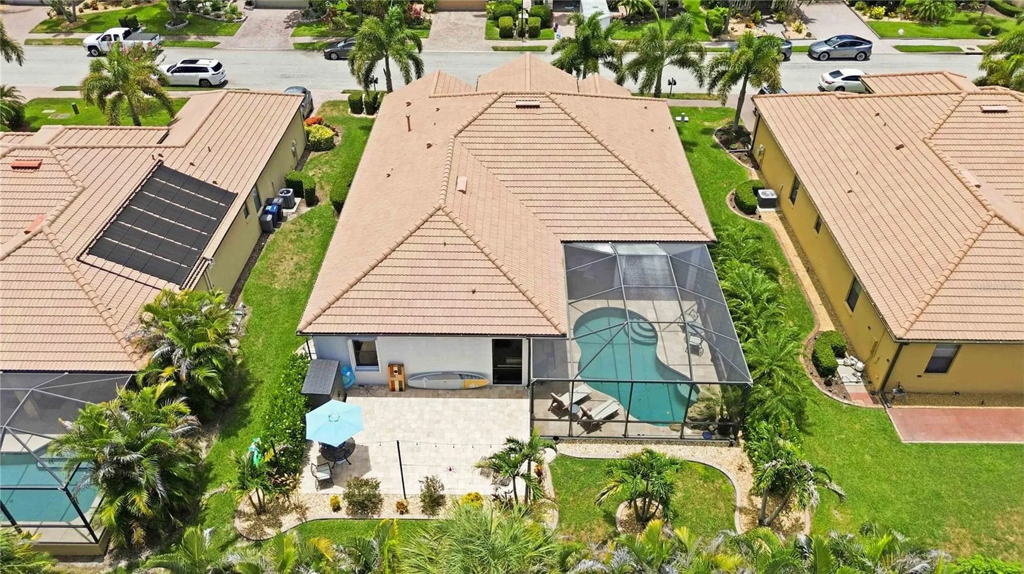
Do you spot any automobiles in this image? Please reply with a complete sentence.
Yes, the image includes an automobile.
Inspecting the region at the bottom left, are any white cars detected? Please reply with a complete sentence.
No, no white car is visible at the bottom left.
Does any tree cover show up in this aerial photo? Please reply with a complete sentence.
Yes, tree cover can be seen from above here.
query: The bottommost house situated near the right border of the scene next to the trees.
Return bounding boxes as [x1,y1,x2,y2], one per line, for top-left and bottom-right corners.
[738,72,1024,407]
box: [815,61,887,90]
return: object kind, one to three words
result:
car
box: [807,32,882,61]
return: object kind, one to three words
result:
car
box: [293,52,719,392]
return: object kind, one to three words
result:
house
